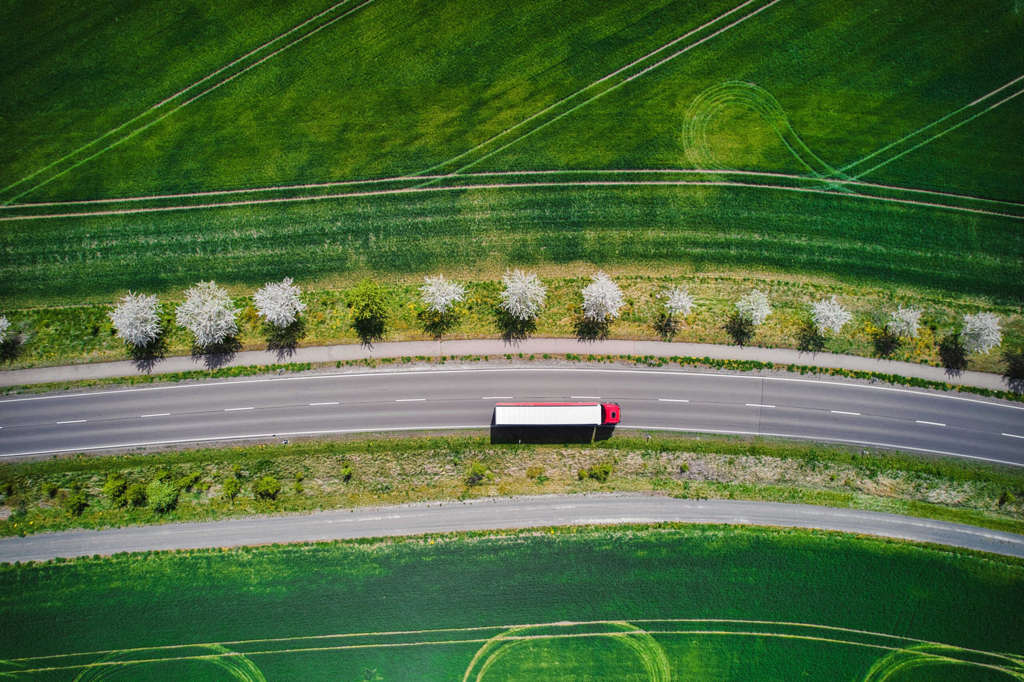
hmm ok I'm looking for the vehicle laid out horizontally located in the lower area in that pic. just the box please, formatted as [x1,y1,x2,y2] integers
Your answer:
[496,402,621,425]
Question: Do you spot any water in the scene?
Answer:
No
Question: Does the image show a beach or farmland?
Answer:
farmland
